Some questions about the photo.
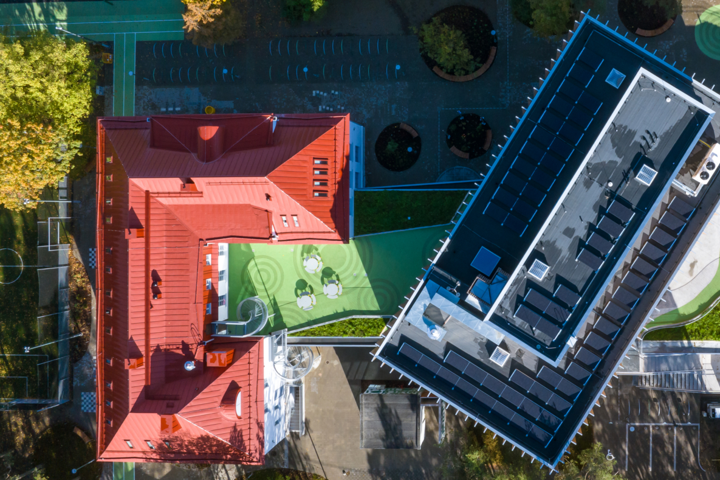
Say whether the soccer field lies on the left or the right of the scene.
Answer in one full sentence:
The soccer field sits on the left side.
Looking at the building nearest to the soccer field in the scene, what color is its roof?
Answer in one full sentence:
The roof over the building nearest to the soccer field appears red.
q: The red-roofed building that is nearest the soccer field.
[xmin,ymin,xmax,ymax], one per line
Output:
[96,115,365,463]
